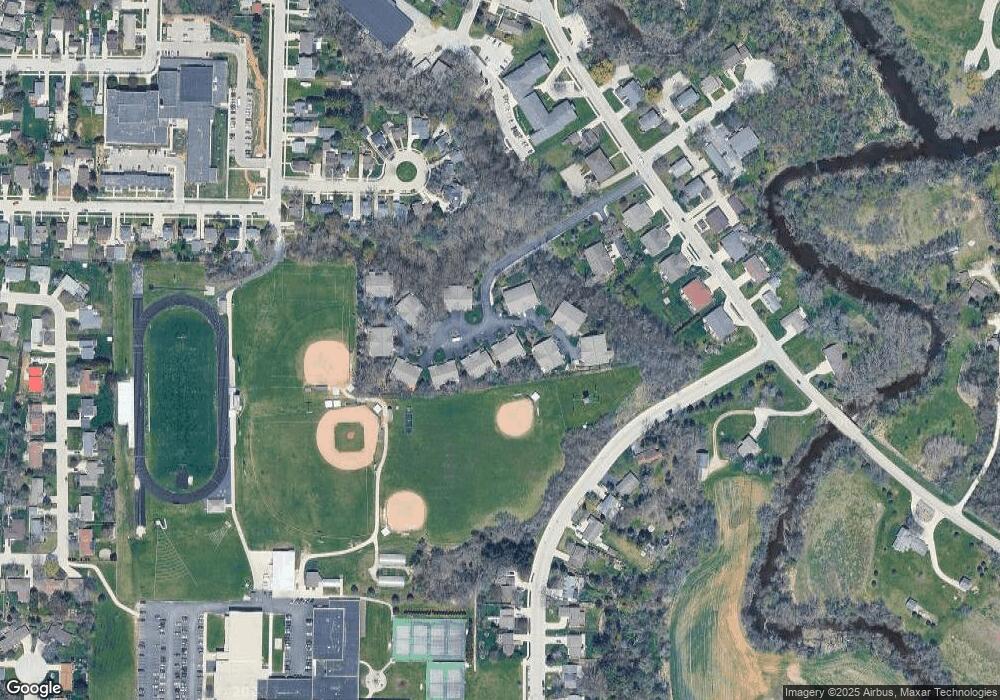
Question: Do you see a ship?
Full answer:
No, no ship is visible in the scene.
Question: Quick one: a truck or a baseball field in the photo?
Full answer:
Visible in the photo is a baseball field.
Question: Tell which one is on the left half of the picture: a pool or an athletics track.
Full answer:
Visible on the left half of the picture is an athletics track.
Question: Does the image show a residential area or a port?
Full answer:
It's a residential area.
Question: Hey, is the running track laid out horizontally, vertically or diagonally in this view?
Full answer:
Seen from above, the running track lies vertically.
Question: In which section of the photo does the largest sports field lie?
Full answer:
The largest sports field appears toward the left of the photo.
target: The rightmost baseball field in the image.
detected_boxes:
[496,398,533,437]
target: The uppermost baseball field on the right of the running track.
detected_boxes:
[304,341,350,391]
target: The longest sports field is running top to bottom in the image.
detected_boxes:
[145,305,217,493]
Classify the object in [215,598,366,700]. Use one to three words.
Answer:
building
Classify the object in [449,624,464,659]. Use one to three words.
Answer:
tennis court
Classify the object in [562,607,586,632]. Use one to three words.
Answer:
house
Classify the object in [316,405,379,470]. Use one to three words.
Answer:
baseball field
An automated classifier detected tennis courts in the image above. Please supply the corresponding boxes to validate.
[449,624,464,659]
[447,669,460,700]
[414,626,427,657]
[430,669,443,700]
[397,626,410,657]
[431,625,445,658]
